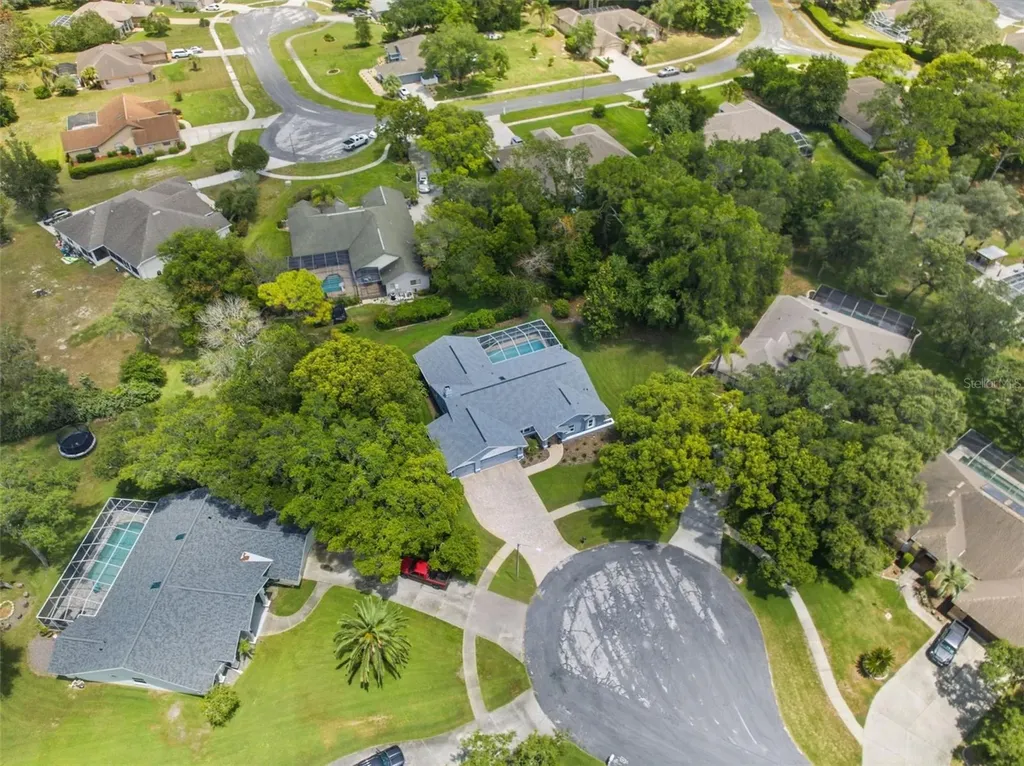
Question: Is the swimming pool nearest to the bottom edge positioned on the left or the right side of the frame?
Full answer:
The swimming pool nearest to the bottom edge is on the left side of the image.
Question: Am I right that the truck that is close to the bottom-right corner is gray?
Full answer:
Yes, the truck that is close to the bottom-right corner appears gray.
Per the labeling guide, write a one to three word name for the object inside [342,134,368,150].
vehicle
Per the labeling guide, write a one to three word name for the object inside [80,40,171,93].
house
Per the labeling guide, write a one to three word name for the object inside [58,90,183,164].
house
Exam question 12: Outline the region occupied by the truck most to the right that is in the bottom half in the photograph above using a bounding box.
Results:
[925,619,972,667]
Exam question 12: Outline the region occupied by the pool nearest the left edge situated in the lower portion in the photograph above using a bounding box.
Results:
[49,511,147,632]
